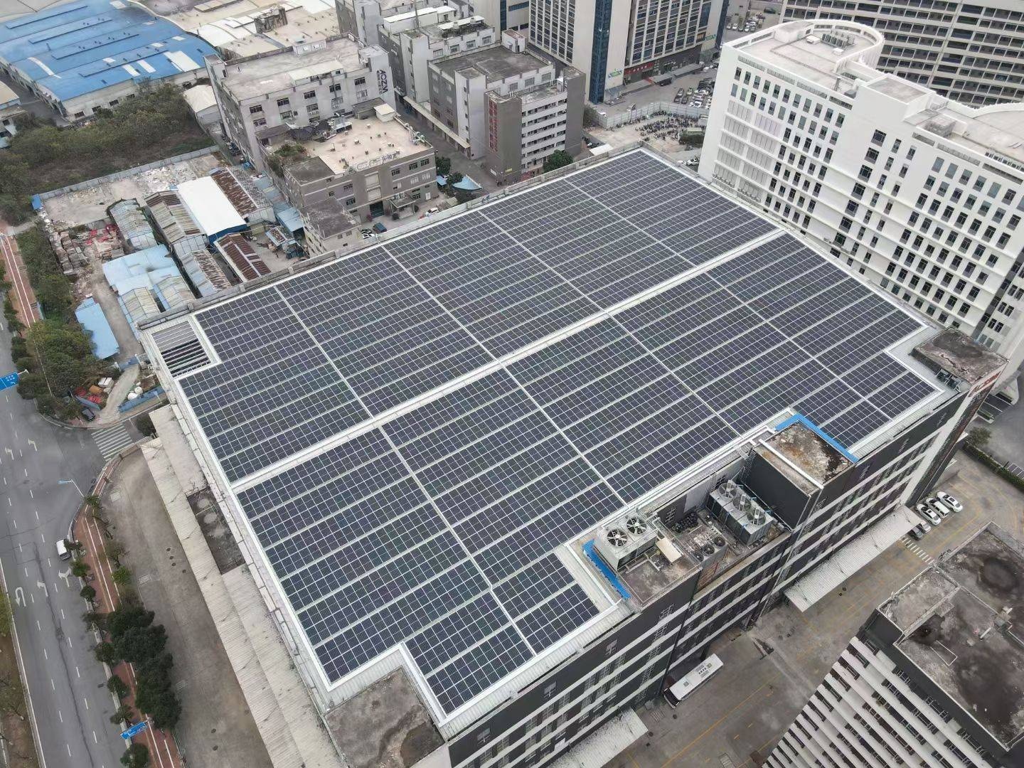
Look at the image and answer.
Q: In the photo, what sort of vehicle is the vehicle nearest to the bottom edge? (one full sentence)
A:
I'd say the vehicle nearest to the bottom edge is a bus.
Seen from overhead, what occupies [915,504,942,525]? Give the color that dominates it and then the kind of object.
white car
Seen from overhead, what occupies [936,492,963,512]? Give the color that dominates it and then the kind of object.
white car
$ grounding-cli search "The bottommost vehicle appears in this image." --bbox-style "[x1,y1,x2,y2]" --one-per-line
[663,653,725,712]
